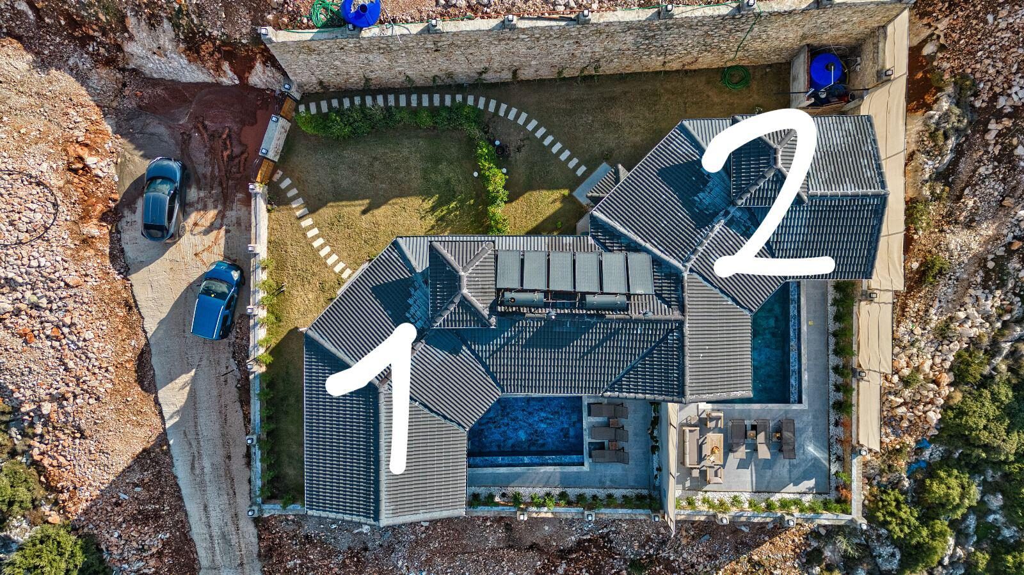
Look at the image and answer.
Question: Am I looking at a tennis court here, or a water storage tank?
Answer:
water storage tank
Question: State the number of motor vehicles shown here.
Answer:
two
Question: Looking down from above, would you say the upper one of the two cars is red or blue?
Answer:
blue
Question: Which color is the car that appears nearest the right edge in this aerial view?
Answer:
blue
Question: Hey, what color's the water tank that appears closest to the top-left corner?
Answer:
blue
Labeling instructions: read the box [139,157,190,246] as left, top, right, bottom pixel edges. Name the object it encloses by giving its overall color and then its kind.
blue car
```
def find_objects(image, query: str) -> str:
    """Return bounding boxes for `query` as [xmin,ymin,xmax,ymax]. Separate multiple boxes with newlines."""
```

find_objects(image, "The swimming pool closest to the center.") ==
[466,396,588,472]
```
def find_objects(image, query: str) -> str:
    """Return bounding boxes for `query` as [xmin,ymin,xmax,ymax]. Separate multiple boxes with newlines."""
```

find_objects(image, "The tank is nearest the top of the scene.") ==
[343,0,385,35]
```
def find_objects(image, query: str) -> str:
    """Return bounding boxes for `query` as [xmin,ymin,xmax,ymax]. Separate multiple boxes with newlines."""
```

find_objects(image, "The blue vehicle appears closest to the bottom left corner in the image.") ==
[192,258,248,346]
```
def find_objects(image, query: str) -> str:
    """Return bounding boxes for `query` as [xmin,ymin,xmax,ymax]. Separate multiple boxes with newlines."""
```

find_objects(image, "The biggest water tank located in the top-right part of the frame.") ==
[811,57,839,96]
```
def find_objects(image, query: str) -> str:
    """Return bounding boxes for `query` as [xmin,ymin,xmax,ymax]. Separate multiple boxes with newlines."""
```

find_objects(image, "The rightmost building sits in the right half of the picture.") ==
[583,112,890,405]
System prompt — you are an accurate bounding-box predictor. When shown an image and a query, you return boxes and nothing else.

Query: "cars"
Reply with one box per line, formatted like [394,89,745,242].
[139,157,190,246]
[192,258,248,346]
